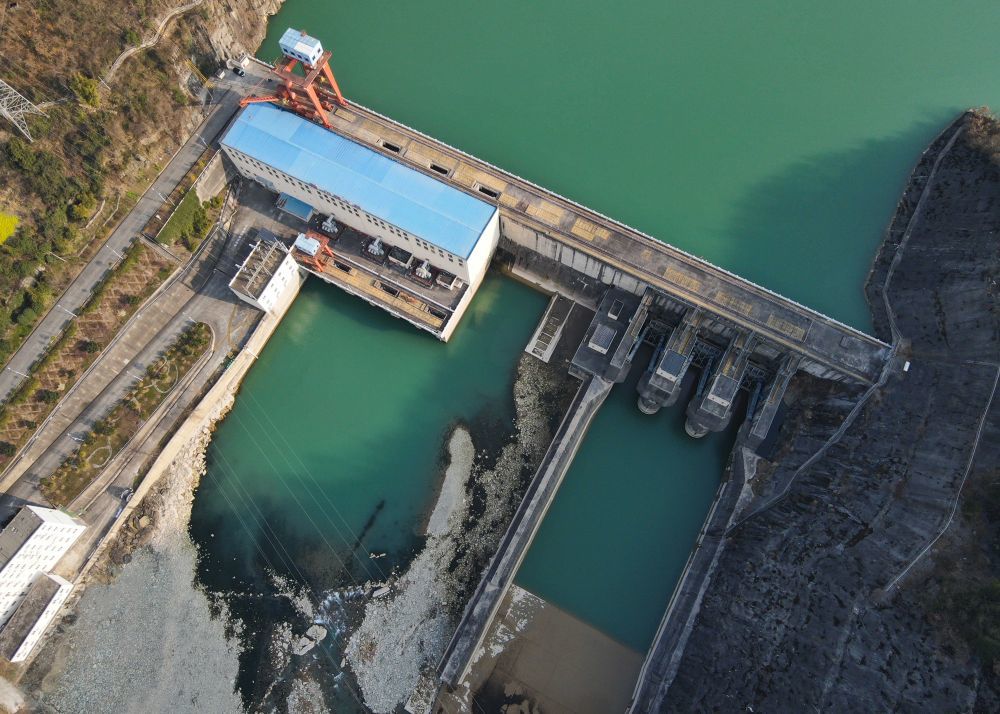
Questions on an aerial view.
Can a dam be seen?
Yes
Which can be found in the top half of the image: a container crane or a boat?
container crane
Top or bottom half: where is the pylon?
top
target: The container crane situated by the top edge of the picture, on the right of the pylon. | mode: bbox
[238,26,348,128]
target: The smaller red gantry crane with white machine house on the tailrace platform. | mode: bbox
[291,228,336,273]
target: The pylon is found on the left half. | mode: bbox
[0,85,48,141]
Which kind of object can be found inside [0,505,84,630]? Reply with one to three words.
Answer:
building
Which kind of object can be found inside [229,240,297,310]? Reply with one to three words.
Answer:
building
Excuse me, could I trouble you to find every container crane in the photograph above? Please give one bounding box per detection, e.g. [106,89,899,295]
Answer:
[291,228,336,273]
[238,26,348,128]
